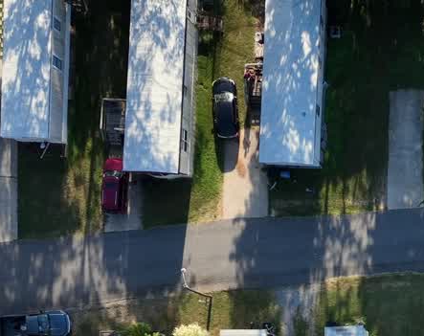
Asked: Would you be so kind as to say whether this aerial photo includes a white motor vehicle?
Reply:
No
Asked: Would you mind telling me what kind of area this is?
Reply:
residential area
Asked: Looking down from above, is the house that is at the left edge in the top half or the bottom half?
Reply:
top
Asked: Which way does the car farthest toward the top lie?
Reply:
up and down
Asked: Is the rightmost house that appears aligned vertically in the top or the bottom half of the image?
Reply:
top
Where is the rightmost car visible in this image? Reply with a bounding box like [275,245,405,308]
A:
[212,80,240,140]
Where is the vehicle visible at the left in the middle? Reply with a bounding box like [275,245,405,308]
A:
[101,158,129,215]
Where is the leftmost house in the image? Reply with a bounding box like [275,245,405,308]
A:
[0,0,71,163]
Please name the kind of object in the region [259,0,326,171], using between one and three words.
house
